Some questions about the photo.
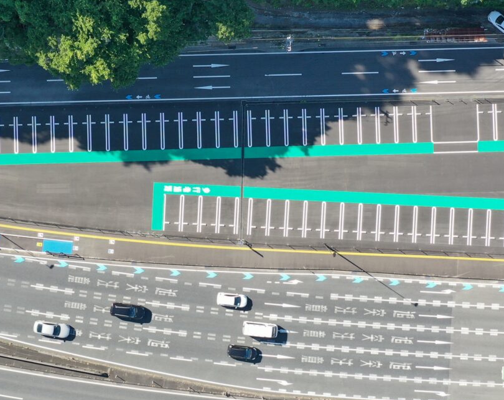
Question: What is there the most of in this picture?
paved ground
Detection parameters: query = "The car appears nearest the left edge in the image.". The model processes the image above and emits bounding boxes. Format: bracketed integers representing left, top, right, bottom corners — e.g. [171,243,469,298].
[34,320,70,338]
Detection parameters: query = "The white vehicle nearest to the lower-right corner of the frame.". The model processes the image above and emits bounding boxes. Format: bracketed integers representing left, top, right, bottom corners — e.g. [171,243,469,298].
[244,321,276,339]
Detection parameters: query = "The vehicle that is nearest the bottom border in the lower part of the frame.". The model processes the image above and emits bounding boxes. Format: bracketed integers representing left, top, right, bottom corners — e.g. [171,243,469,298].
[229,344,257,362]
